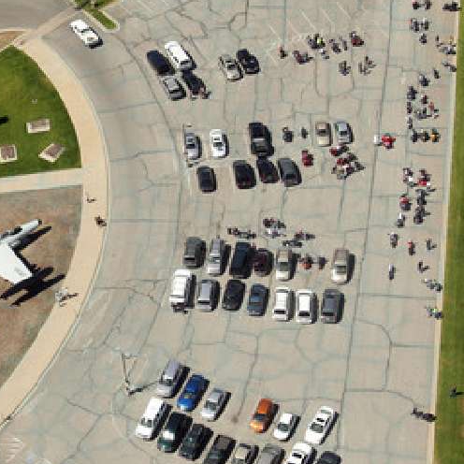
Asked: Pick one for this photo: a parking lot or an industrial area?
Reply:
parking lot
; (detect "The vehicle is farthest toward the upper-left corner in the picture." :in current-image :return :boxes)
[72,20,102,48]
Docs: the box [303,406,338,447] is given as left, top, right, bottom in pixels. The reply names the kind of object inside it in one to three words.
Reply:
car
